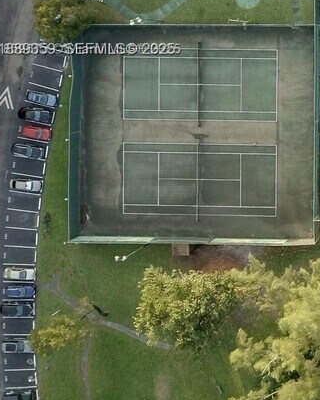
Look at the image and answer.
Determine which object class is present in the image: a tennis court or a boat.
tennis court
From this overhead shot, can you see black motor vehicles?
Yes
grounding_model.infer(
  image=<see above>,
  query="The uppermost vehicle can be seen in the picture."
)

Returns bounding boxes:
[27,90,60,107]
